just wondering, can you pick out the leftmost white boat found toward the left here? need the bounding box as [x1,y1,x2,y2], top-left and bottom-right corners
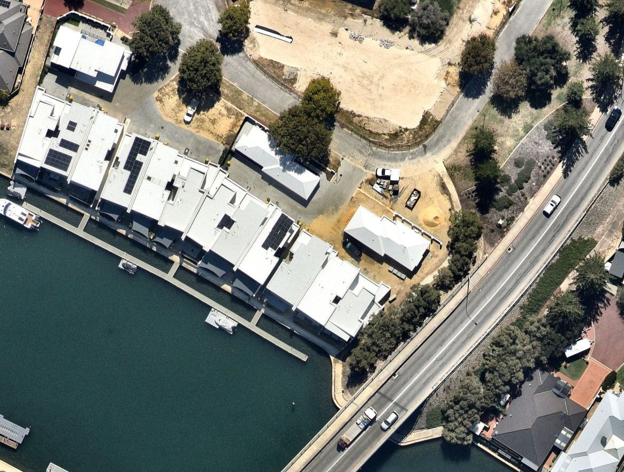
[0,200,43,232]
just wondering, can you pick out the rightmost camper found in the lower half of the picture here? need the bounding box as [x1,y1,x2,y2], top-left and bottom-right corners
[567,336,594,361]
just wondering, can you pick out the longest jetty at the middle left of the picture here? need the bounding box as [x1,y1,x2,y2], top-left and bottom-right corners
[21,202,308,362]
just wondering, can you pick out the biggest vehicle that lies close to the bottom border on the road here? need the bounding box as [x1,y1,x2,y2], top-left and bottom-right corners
[337,406,379,451]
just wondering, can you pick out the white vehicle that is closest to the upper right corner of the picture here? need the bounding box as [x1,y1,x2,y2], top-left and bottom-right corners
[541,194,563,218]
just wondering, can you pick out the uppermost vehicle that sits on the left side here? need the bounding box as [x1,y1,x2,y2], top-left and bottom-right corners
[185,94,205,125]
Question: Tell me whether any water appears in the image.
Yes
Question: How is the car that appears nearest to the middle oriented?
at an angle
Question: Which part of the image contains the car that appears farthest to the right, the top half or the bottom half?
top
